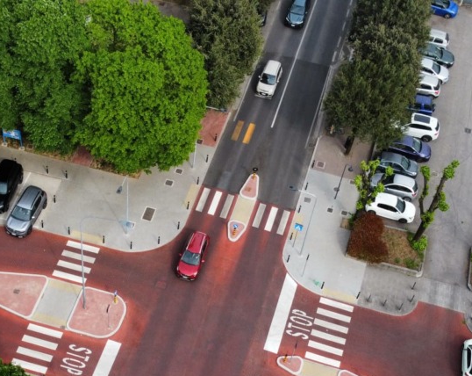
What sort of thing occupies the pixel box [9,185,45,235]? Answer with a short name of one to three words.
car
